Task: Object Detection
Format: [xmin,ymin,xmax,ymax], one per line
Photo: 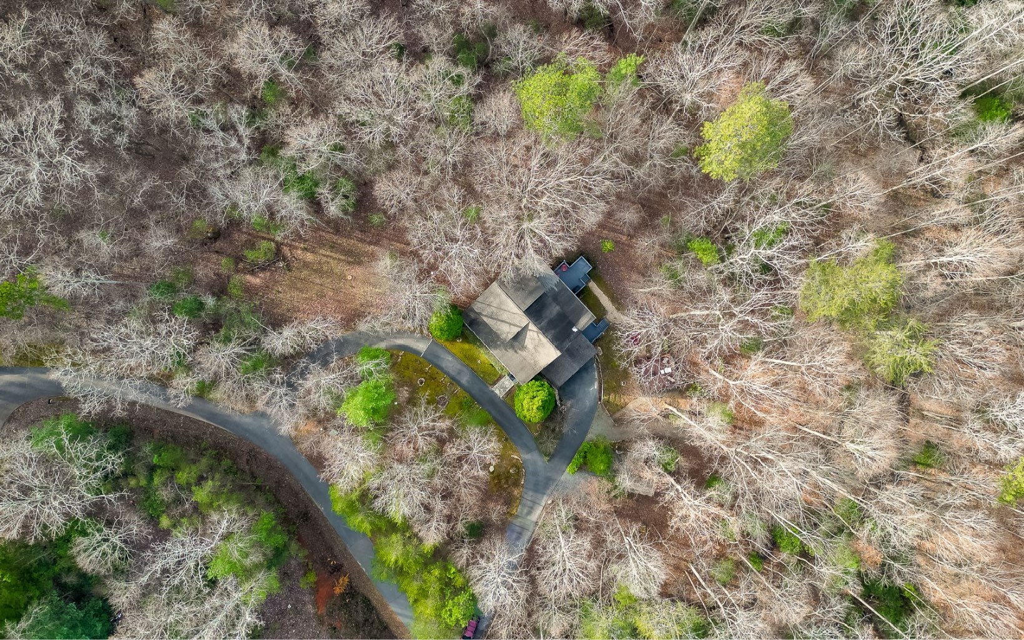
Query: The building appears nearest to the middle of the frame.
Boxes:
[463,248,599,389]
